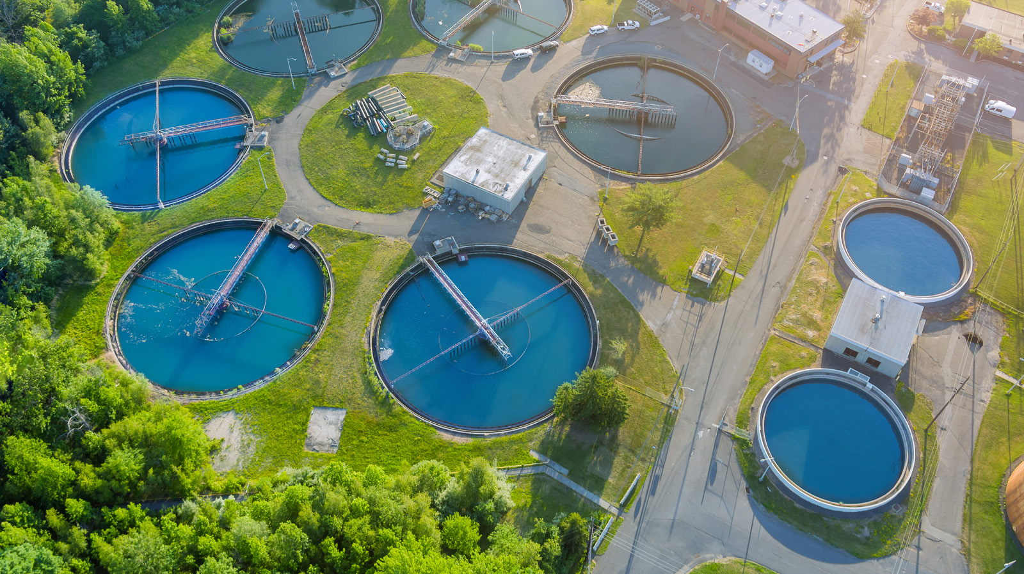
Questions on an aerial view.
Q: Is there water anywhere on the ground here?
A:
Yes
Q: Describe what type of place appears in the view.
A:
industrial area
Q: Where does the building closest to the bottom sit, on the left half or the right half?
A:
right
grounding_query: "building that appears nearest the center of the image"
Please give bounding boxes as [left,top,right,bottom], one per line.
[442,127,548,215]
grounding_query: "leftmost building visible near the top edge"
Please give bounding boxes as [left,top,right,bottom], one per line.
[661,0,845,78]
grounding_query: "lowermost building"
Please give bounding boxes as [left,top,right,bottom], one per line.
[825,277,926,376]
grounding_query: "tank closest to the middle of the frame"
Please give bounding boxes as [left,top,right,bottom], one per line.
[370,243,600,435]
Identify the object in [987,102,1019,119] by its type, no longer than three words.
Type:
vehicle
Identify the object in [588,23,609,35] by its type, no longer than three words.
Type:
vehicle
